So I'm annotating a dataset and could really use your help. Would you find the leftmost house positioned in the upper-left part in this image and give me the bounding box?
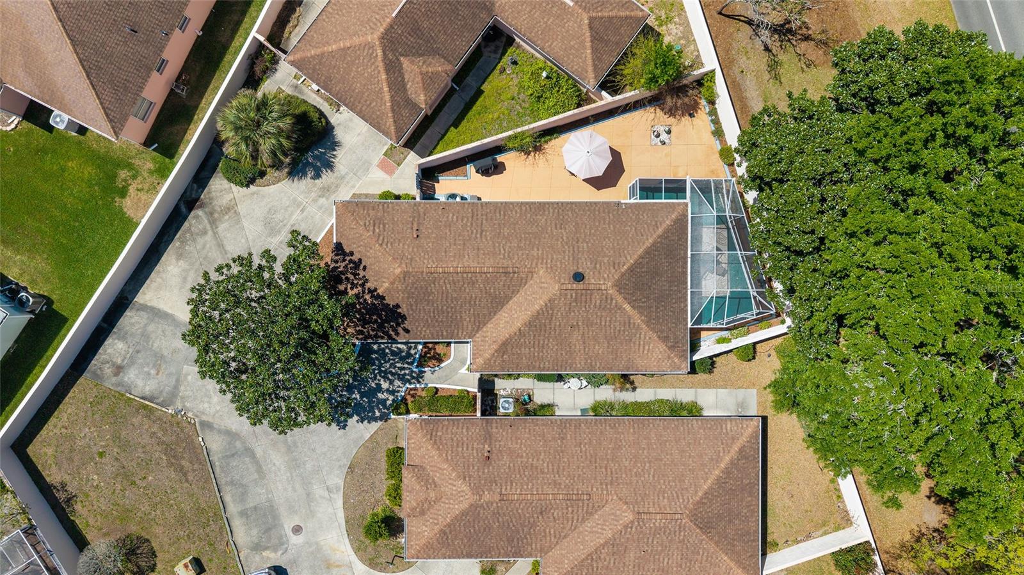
[0,0,214,146]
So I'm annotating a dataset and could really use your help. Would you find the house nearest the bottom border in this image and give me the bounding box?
[385,414,765,575]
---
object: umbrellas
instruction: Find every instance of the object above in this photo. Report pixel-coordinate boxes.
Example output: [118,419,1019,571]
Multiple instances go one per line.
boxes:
[562,130,612,181]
